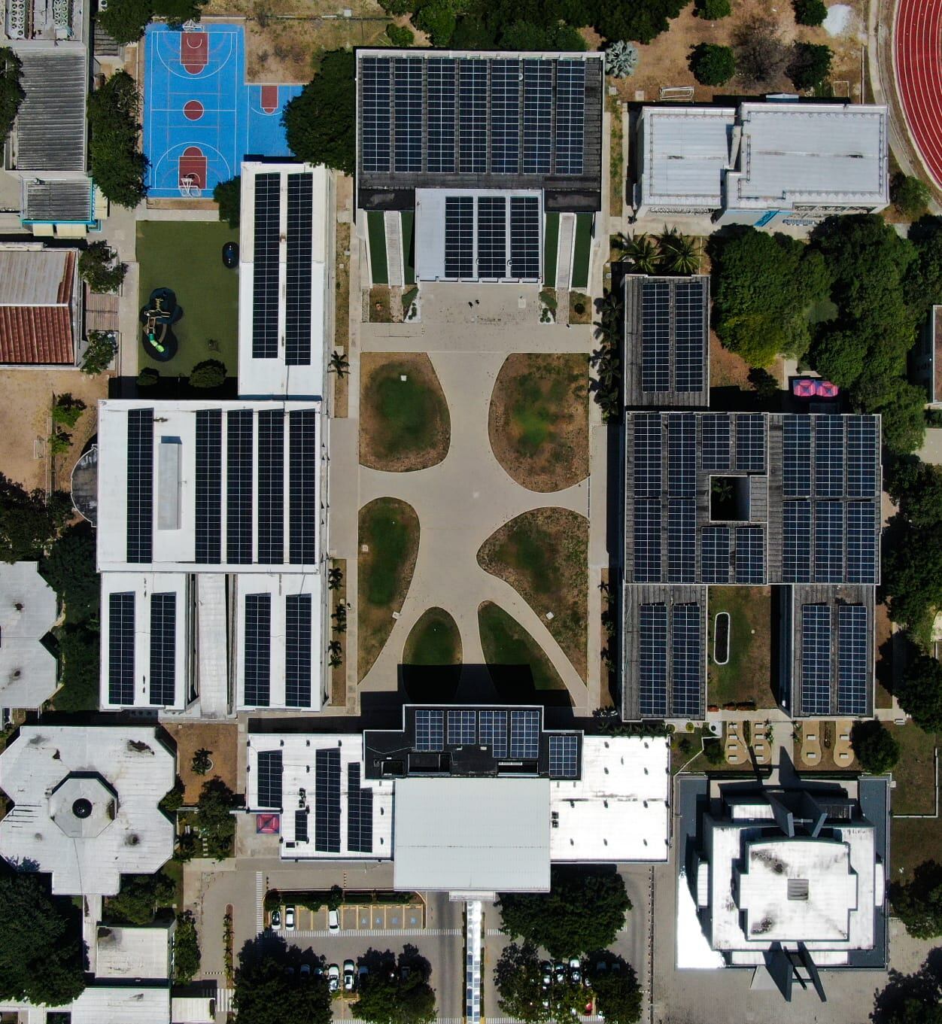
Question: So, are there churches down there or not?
Yes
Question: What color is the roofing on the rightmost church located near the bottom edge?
white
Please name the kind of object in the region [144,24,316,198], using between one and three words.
sports court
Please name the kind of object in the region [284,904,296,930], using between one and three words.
vehicle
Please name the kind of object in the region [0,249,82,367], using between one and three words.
house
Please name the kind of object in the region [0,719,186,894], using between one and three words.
building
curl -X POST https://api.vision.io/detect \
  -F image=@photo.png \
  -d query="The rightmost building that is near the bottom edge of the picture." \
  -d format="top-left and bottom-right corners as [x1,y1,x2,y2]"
[693,778,885,1002]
